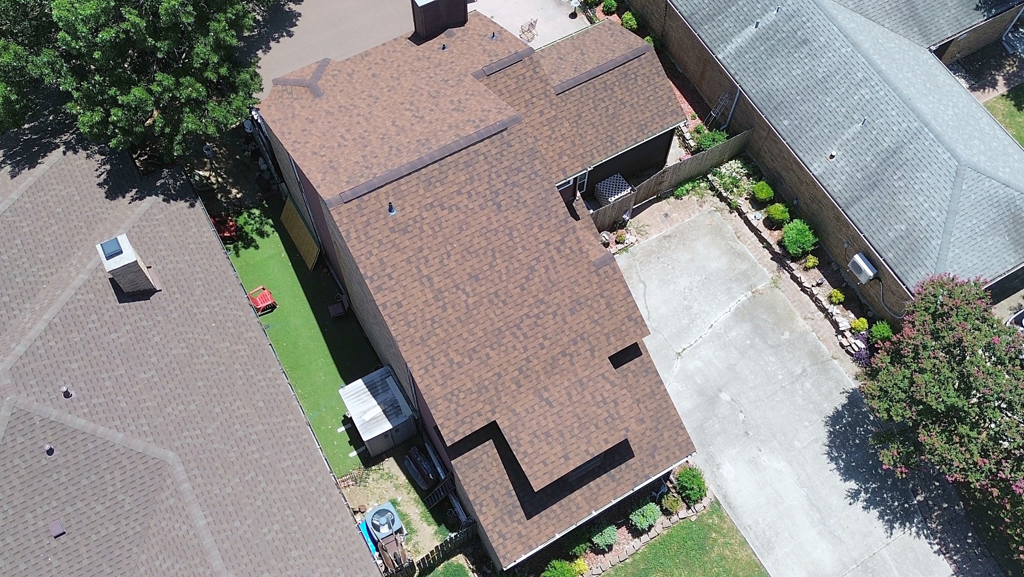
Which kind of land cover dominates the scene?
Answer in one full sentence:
The scene is dominated by buildings.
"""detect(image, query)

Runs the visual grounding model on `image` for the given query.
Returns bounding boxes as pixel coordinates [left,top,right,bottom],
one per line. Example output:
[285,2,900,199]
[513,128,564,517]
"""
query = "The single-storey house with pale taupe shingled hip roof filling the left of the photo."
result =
[0,115,386,577]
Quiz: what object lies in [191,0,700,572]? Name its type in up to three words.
house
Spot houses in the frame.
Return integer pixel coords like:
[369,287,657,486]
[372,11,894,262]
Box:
[191,0,700,572]
[0,115,386,577]
[624,0,1024,340]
